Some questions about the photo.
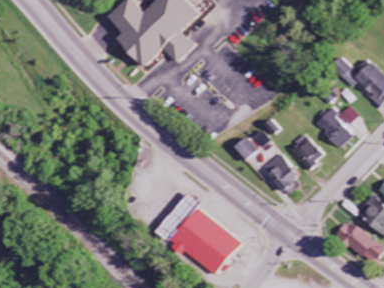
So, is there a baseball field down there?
No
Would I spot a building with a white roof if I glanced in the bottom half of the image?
Yes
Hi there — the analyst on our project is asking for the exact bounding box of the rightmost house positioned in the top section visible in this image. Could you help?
[353,60,384,104]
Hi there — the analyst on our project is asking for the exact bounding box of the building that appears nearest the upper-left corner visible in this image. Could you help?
[108,0,220,67]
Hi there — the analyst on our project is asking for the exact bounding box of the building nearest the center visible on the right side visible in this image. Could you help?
[236,135,259,158]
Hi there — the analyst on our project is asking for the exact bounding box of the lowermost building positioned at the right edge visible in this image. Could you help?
[340,222,384,260]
